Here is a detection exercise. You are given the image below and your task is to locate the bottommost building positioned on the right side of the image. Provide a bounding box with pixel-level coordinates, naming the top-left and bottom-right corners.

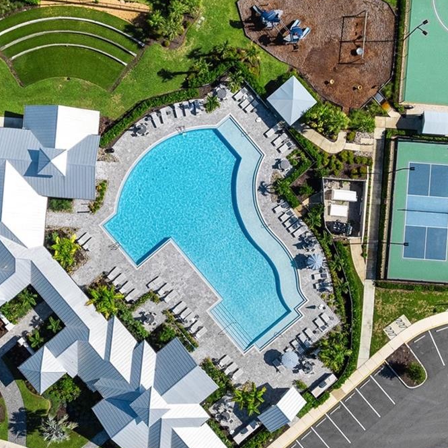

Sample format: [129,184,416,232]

[258,387,307,435]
